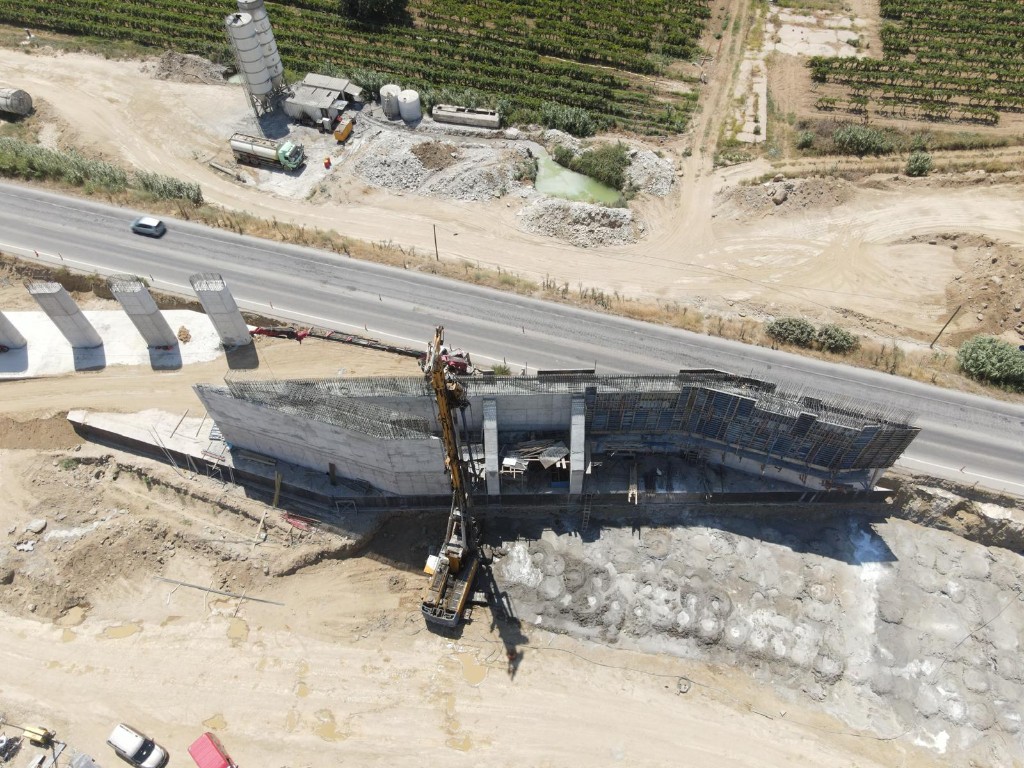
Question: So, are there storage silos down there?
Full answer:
Yes, I can see a storage silo in this picture.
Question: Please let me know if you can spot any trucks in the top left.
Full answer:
Yes, there is a truck in the top left.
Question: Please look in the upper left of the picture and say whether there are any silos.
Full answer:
Yes, you'll find a silo in the upper left of the picture.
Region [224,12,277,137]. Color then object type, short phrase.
gray silo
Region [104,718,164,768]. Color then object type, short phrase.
white car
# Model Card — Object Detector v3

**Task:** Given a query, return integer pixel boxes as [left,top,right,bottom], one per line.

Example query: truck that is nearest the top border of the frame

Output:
[228,131,301,168]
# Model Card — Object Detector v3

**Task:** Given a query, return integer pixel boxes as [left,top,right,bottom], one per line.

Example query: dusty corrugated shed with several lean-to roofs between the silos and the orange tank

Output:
[276,68,365,128]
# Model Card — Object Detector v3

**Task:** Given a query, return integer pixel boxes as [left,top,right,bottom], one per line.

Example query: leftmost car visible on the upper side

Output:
[129,220,166,240]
